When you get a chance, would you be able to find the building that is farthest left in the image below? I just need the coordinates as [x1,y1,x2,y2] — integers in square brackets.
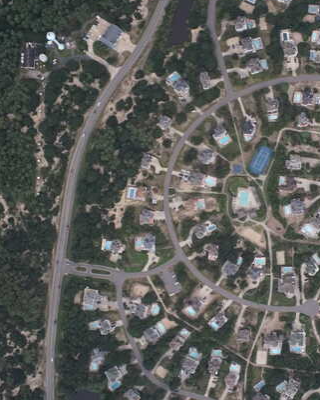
[20,47,35,68]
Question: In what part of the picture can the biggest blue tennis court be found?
right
